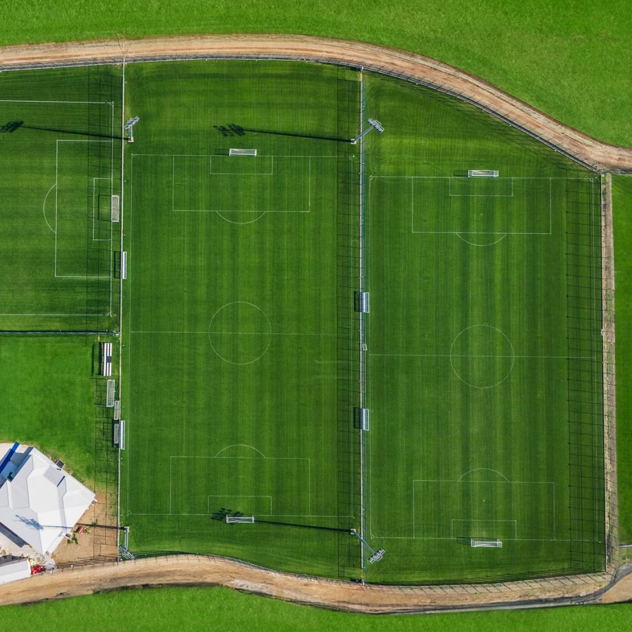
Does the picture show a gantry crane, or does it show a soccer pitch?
soccer pitch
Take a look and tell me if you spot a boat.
No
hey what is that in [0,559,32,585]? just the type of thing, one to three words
shed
